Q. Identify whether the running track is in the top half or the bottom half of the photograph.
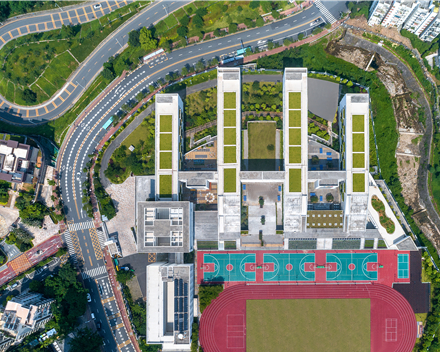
bottom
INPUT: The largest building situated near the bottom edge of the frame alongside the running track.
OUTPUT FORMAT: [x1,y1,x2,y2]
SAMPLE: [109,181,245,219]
[146,263,193,343]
